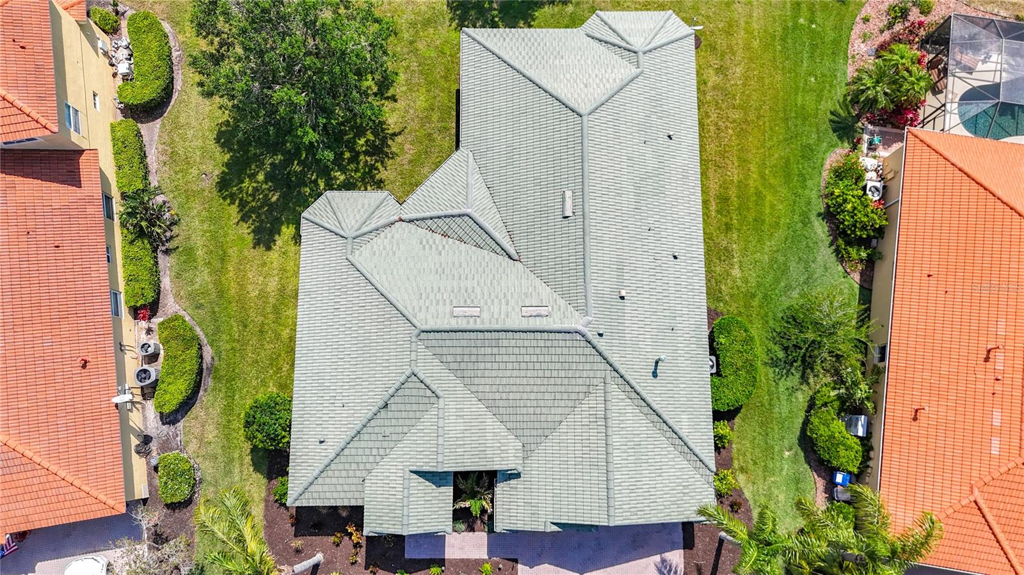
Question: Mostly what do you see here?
buildings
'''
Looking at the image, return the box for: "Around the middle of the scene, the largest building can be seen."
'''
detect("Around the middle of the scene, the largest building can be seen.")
[284,7,717,539]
